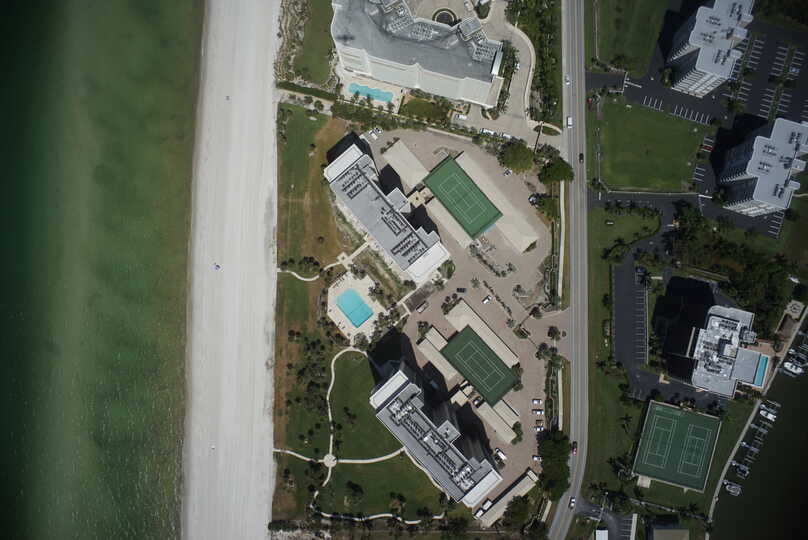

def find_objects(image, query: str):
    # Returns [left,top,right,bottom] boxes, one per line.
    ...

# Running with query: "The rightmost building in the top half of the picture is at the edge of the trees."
[720,118,808,218]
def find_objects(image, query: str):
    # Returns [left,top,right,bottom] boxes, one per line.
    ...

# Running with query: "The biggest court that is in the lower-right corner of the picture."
[631,399,723,493]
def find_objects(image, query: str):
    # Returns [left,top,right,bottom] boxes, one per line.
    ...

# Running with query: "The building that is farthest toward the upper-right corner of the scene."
[666,0,754,96]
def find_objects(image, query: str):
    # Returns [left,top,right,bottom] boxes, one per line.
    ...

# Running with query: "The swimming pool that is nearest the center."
[327,272,387,345]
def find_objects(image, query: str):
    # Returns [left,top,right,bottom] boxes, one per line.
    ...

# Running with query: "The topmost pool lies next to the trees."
[344,72,416,114]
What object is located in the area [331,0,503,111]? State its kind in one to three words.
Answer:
building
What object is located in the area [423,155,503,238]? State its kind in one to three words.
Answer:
tennis court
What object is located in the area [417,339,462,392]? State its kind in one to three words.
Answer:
building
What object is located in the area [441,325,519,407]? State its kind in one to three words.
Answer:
tennis court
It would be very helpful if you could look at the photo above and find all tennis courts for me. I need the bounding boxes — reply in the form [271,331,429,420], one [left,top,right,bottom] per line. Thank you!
[441,325,519,407]
[631,399,723,493]
[423,155,503,238]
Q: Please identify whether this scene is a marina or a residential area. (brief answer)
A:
marina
